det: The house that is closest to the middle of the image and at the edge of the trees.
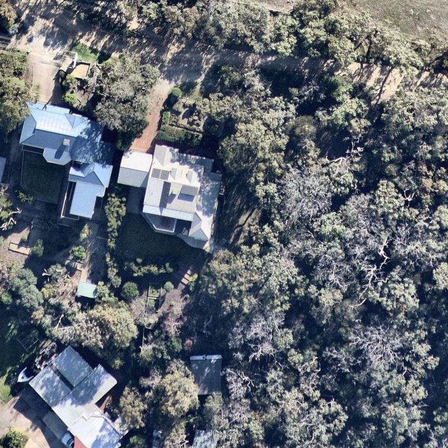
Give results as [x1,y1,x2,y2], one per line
[143,145,224,240]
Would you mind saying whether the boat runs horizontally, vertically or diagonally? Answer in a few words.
diagonally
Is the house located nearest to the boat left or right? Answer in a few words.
left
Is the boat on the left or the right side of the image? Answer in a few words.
left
